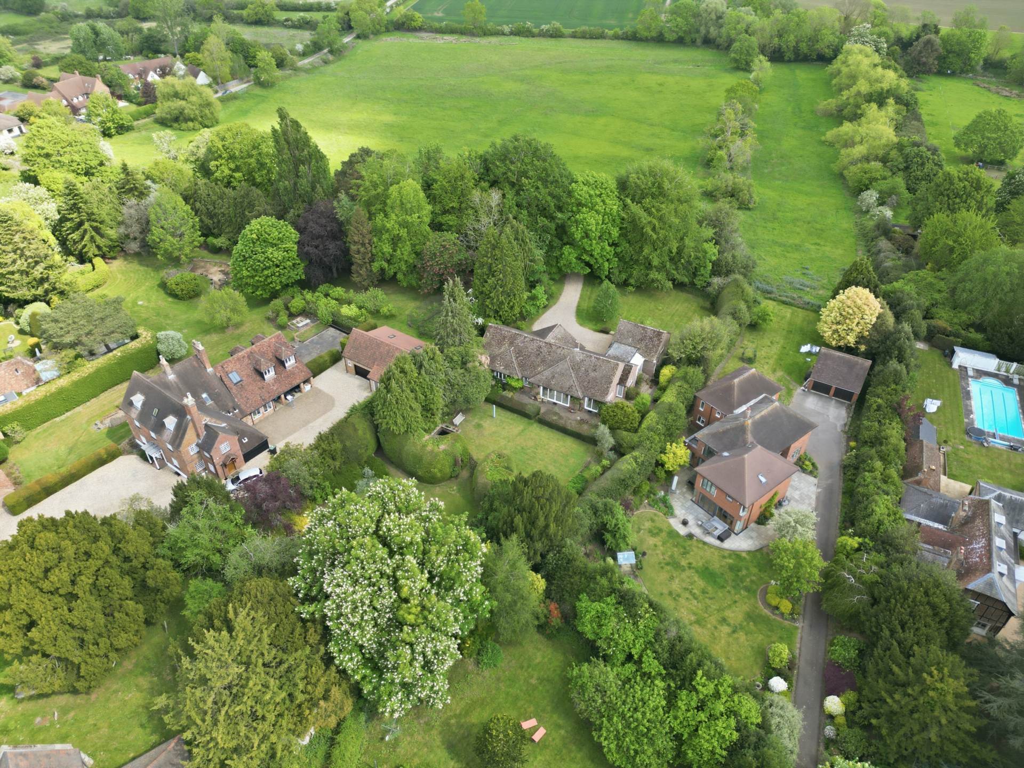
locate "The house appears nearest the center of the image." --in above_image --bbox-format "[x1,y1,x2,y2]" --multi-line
[493,318,638,411]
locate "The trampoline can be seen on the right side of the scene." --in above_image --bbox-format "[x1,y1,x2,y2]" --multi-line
[966,421,990,438]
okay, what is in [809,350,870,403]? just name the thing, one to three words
building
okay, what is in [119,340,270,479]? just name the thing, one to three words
house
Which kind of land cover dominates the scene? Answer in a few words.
trees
